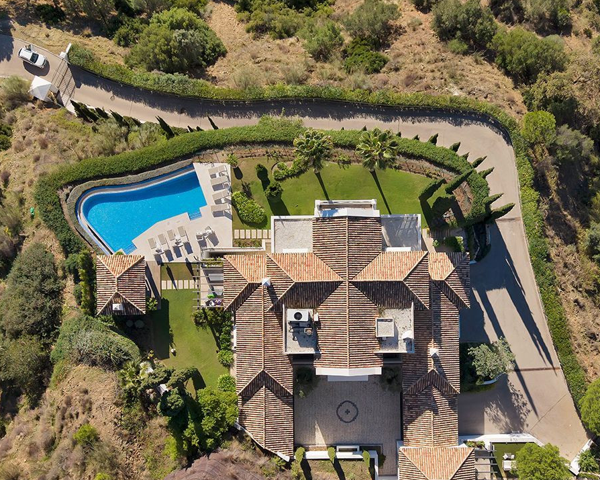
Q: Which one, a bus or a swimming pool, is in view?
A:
swimming pool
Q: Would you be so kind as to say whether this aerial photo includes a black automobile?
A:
No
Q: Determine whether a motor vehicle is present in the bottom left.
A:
No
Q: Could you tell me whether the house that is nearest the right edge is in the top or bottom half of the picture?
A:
bottom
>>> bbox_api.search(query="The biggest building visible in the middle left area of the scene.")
[95,254,149,316]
